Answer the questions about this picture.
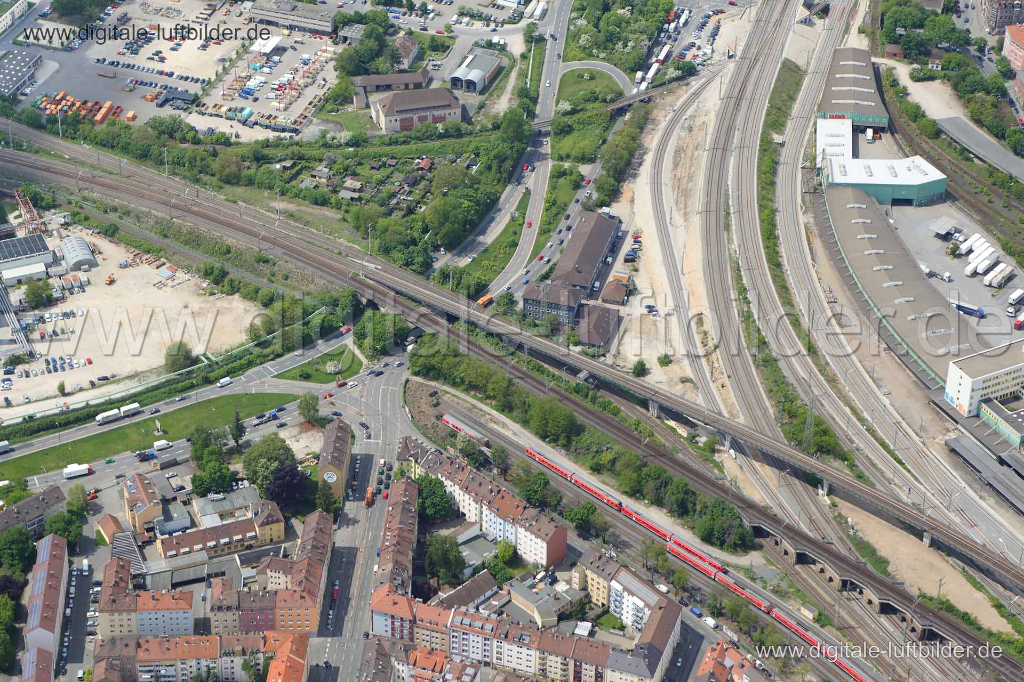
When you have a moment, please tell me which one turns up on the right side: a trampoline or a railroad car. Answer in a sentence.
Visible on the right side is a railroad car.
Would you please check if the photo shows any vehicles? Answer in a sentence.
Yes, looking at the shot, I can spot a vehicle.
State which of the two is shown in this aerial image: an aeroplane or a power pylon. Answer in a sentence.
The image shows a power pylon.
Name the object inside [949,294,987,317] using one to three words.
truck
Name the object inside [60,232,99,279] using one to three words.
hangar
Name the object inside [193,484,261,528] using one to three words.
building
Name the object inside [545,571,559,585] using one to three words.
vehicle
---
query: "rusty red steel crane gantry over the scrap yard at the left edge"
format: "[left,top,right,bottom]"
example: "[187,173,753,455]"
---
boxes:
[0,186,42,241]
